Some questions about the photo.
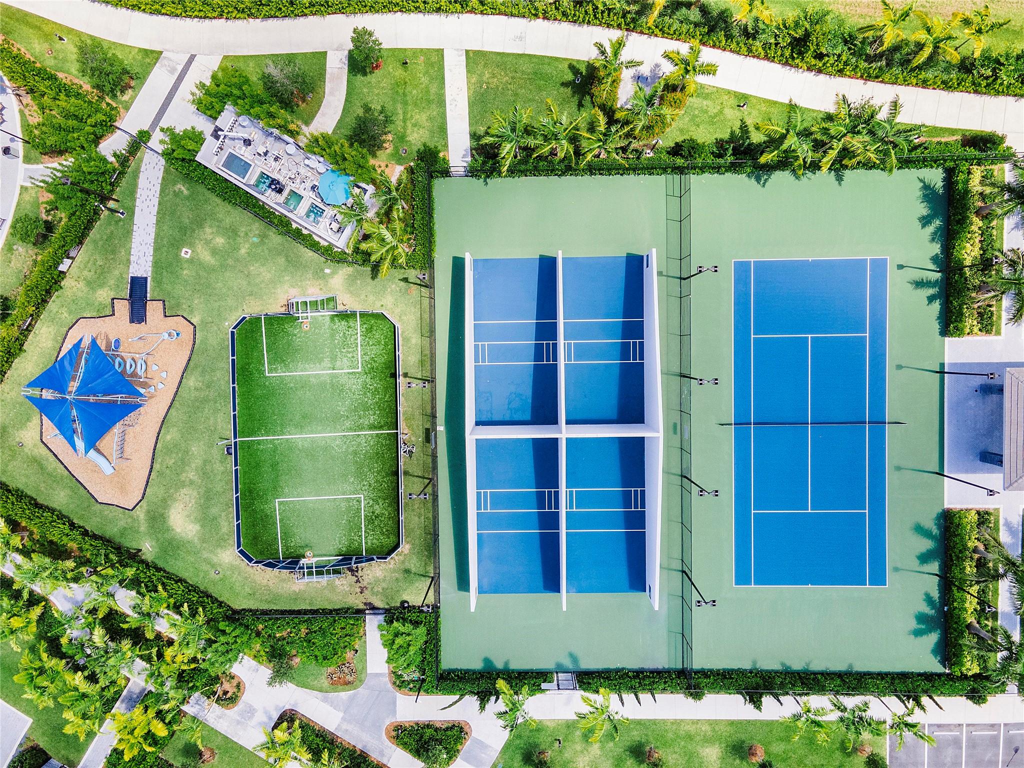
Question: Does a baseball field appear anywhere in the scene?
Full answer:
No, I find no baseball field anywhere in the image.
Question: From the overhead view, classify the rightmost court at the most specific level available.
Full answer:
From above, the rightmost court can be identified as a tennis court.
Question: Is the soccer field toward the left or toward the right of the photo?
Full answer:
The soccer field appears in the left half of the scene.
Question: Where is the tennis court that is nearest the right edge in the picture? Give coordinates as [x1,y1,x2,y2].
[681,166,950,678]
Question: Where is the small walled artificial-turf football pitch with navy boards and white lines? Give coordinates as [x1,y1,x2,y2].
[229,294,404,584]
